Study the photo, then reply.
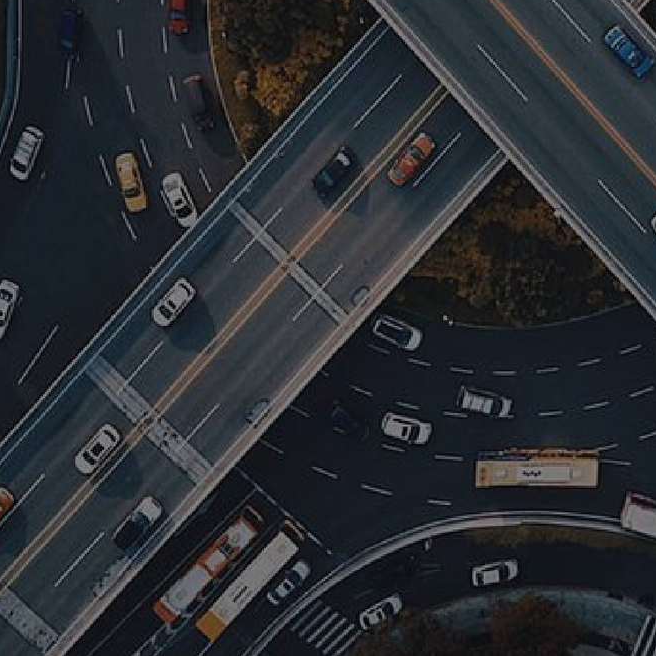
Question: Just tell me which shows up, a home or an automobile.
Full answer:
Of the two, only an automobile appears.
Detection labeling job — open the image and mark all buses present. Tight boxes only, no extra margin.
[476,452,602,488]
[195,523,306,642]
[154,505,267,622]
[617,494,656,539]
